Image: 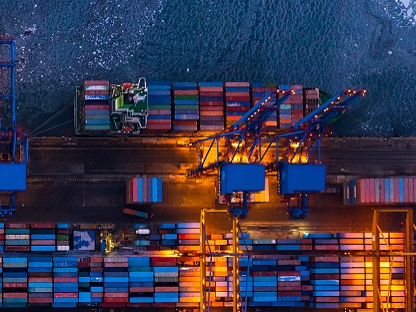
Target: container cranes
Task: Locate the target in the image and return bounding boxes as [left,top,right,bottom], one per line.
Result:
[241,97,369,223]
[177,97,298,223]
[178,209,251,312]
[0,36,29,223]
[337,209,416,312]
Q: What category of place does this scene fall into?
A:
port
